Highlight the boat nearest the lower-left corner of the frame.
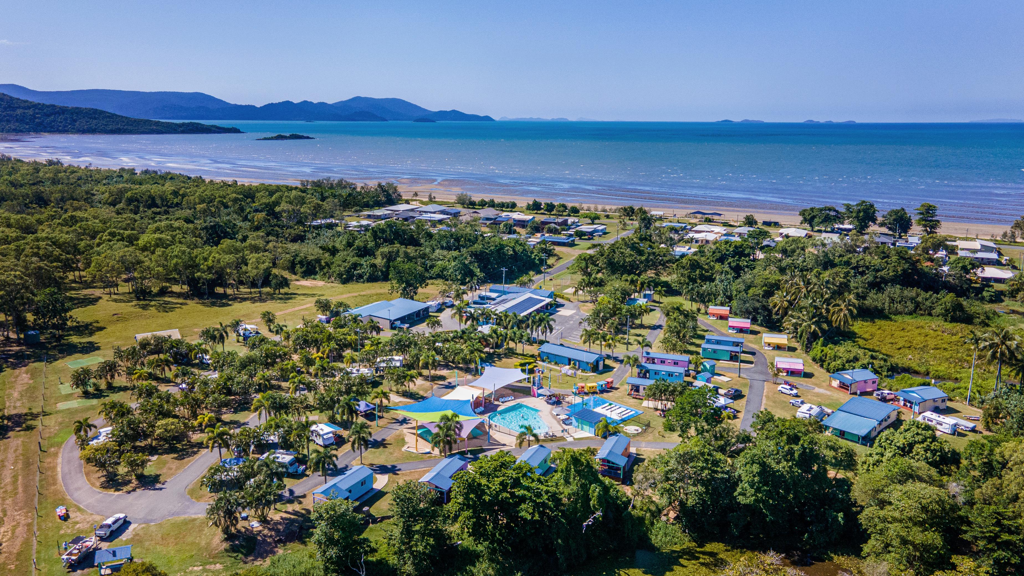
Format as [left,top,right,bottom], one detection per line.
[54,535,96,570]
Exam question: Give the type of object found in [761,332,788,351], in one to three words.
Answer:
building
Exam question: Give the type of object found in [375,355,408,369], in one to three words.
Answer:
camper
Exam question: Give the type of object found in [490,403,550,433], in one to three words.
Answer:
swimming pool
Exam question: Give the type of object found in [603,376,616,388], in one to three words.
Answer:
rail car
